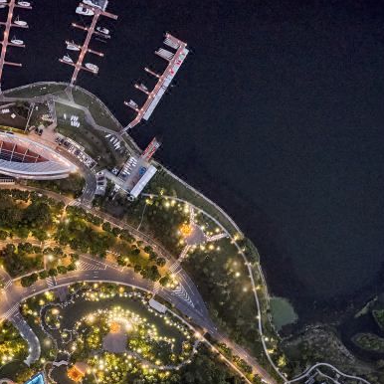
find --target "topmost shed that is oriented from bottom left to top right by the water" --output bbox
[129,166,157,199]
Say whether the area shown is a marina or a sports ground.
marina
